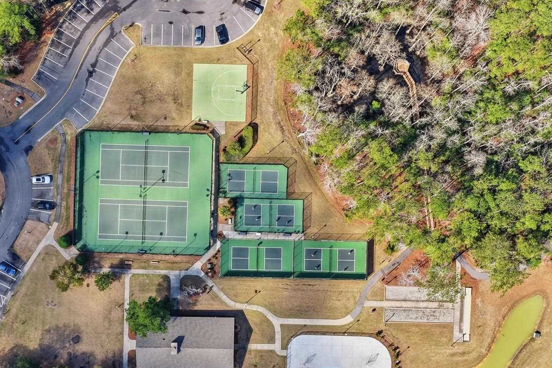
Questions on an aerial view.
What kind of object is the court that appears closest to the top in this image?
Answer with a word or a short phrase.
basketball court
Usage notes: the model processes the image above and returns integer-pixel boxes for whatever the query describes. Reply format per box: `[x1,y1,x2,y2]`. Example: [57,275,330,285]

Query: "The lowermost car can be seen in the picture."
[0,263,16,275]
